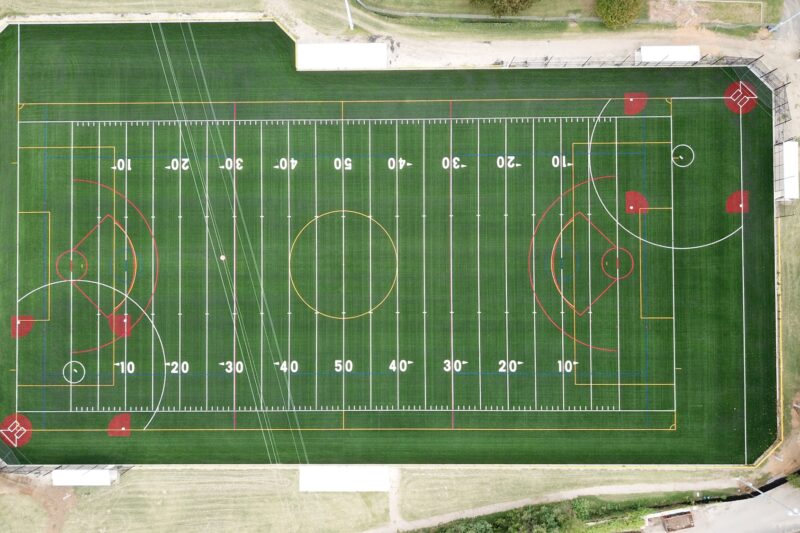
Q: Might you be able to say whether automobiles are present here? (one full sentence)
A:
No, the frame has no automobile in it.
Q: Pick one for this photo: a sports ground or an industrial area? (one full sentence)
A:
The picture captures a sports ground.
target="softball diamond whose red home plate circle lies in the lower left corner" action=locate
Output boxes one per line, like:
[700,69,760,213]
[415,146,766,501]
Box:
[0,25,166,448]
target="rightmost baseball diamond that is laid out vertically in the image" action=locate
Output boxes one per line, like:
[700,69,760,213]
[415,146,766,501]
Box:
[589,80,759,463]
